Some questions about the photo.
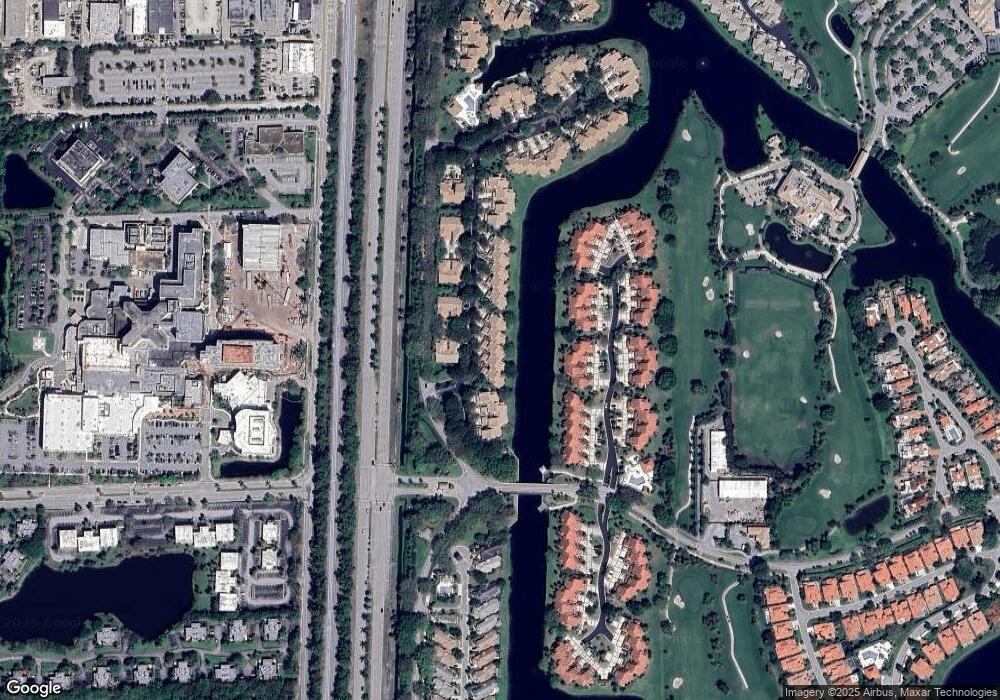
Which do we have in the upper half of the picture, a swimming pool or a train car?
swimming pool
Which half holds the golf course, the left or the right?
right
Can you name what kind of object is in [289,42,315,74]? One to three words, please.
building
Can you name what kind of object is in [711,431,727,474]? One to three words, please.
shed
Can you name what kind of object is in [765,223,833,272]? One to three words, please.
pond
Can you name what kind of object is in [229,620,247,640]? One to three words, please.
house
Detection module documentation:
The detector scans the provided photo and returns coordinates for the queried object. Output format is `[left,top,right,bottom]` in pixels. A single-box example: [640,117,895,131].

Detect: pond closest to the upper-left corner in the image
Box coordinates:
[4,155,54,209]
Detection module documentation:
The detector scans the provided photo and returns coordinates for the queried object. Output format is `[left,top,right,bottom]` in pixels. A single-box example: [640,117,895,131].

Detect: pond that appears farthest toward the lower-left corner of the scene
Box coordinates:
[221,394,302,478]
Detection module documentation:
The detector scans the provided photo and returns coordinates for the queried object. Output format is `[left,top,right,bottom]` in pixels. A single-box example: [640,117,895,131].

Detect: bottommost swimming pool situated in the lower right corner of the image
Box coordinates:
[858,641,892,672]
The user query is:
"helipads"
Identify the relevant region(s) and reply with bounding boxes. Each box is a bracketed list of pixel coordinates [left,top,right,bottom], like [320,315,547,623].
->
[32,337,46,350]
